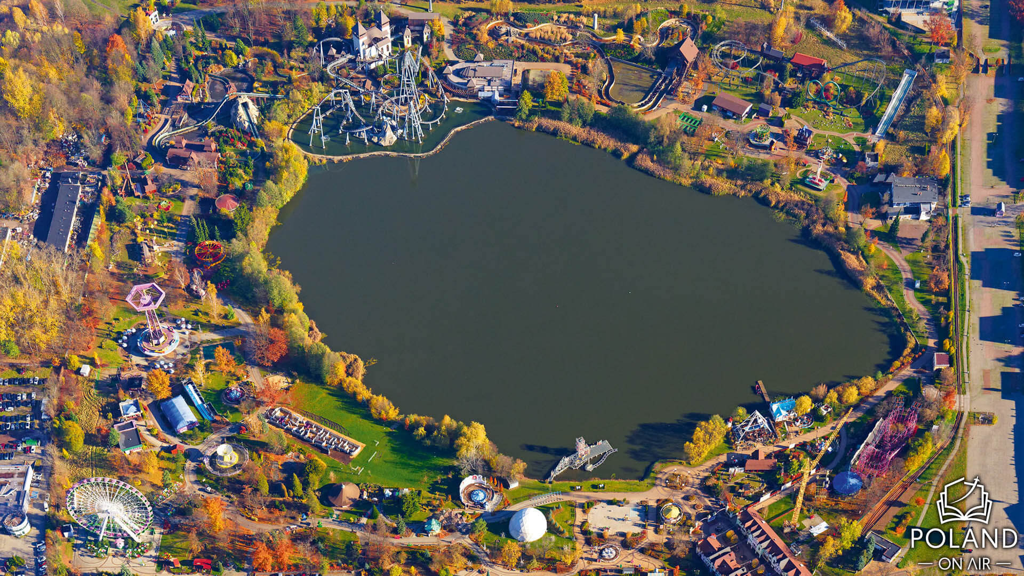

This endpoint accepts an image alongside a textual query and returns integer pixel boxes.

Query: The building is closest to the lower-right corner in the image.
[864,531,902,564]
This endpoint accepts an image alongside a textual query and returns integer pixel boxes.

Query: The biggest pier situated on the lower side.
[546,435,618,482]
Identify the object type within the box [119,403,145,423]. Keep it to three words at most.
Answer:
house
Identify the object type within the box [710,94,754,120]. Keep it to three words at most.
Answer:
building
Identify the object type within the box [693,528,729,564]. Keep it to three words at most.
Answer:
house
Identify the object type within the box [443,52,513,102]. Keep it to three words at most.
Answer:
building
